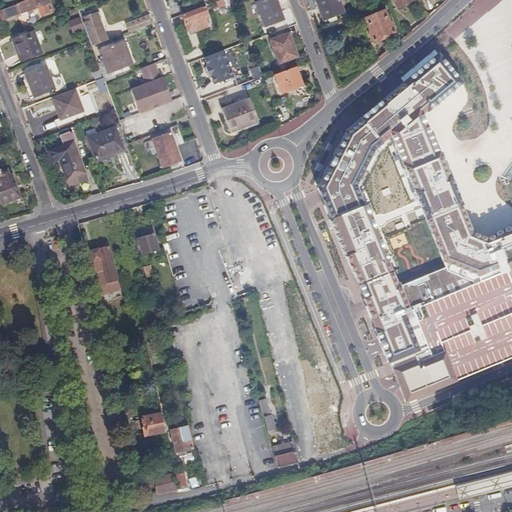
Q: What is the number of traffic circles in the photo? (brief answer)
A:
2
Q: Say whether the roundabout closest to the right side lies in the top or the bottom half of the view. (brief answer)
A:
bottom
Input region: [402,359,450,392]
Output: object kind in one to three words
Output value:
building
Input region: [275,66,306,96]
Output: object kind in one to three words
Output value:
house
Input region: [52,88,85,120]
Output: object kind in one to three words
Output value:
house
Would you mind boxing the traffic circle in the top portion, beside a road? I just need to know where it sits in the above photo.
[247,136,305,194]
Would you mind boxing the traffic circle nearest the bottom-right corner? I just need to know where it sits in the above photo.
[352,388,404,439]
